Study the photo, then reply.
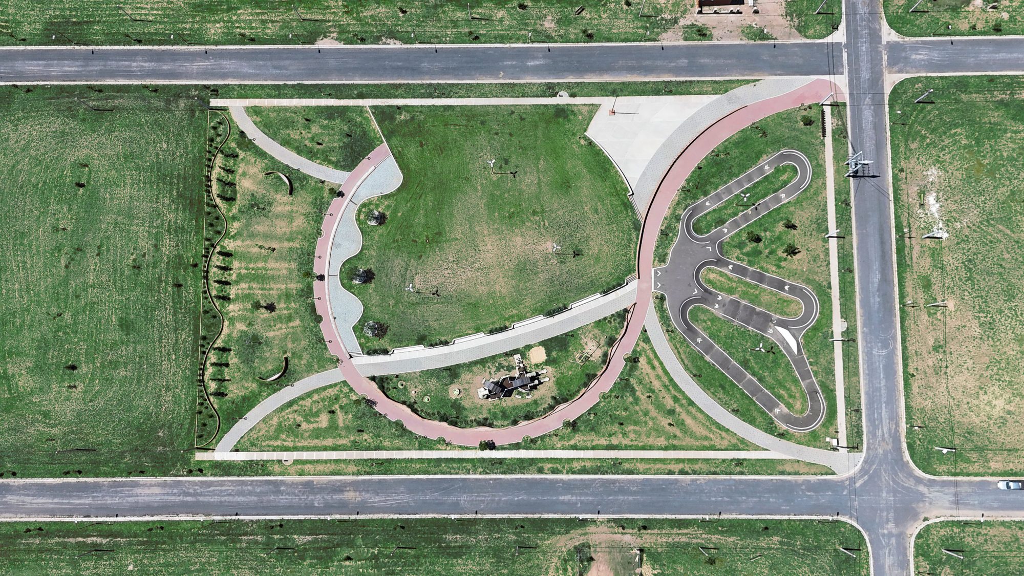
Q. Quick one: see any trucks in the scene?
No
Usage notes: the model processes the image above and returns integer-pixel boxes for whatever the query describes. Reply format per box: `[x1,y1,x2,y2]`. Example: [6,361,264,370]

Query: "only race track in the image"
[652,149,826,432]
